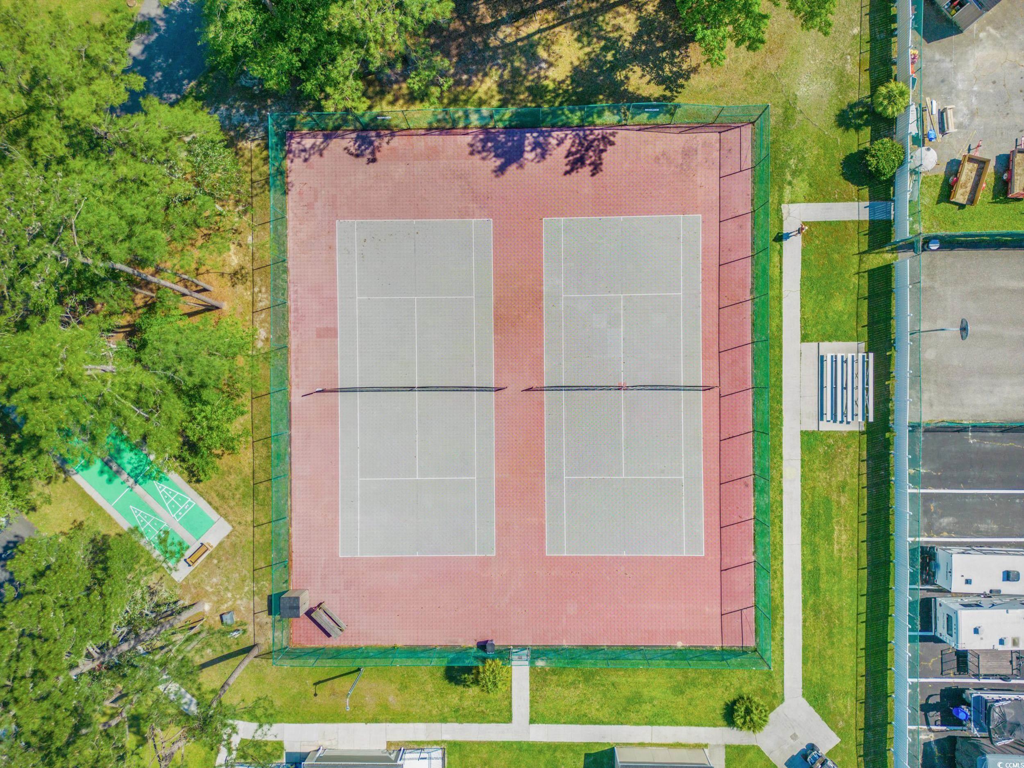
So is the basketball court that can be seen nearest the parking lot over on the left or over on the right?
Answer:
right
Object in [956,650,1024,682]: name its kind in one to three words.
trailer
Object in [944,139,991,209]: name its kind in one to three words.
trailer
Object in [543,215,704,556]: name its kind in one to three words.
tennis court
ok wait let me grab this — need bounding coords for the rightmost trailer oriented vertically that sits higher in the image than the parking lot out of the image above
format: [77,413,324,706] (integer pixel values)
[994,132,1024,201]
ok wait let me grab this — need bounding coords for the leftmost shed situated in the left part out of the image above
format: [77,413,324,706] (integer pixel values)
[277,590,309,618]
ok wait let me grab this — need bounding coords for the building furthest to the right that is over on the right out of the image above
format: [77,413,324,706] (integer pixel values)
[935,0,1006,32]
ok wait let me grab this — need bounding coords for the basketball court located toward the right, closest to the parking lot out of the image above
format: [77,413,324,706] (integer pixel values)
[897,241,1024,423]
